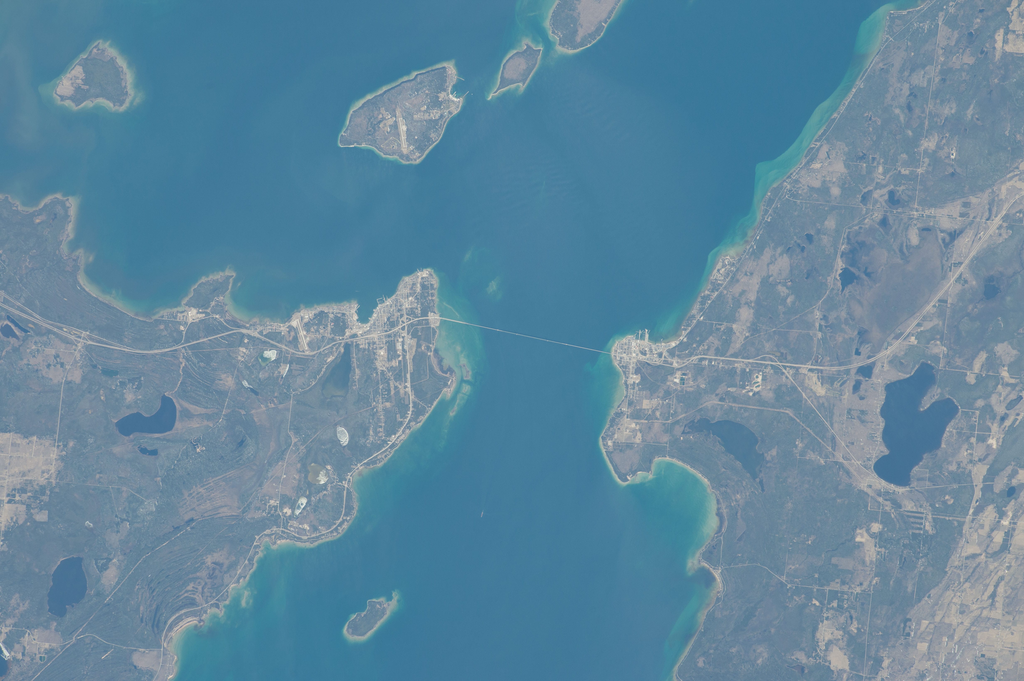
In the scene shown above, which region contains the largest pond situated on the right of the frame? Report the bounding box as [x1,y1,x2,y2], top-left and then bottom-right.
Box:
[683,418,764,478]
